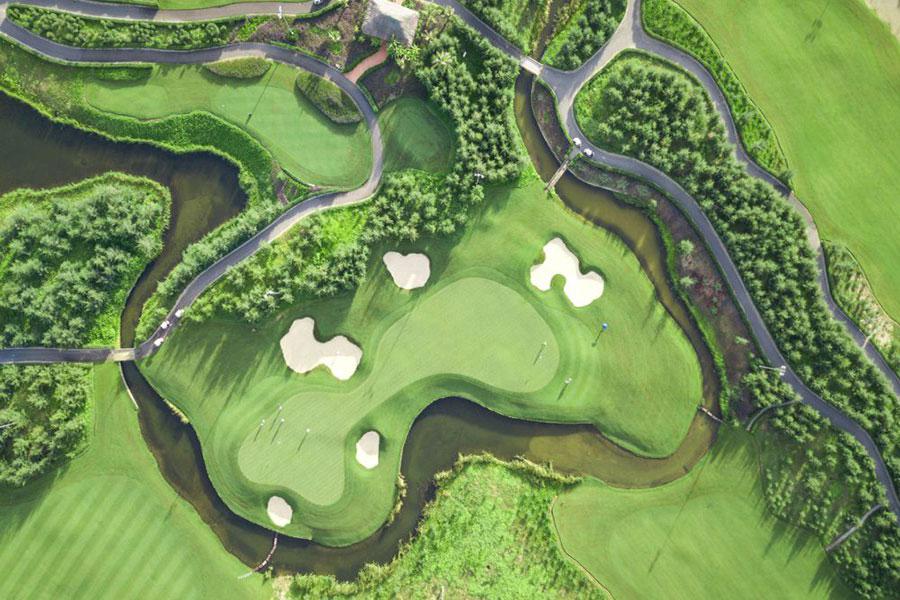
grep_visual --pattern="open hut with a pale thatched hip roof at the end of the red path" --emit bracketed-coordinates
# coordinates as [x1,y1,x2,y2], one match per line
[360,0,419,47]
